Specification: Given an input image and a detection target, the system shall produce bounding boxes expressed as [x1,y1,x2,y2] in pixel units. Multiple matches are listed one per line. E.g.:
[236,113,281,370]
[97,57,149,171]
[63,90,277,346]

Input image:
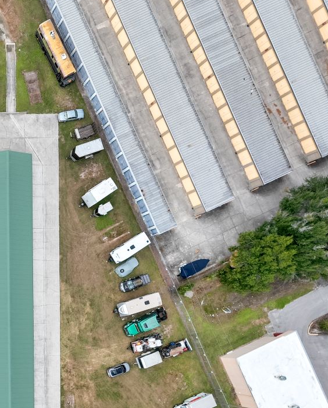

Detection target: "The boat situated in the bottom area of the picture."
[174,259,210,282]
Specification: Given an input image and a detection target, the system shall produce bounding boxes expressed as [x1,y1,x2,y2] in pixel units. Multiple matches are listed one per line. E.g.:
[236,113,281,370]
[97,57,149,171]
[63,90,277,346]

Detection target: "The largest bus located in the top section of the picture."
[37,20,73,92]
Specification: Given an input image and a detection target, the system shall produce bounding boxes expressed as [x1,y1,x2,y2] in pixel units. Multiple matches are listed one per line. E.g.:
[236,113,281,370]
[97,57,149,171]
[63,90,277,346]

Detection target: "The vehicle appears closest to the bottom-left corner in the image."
[106,361,131,377]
